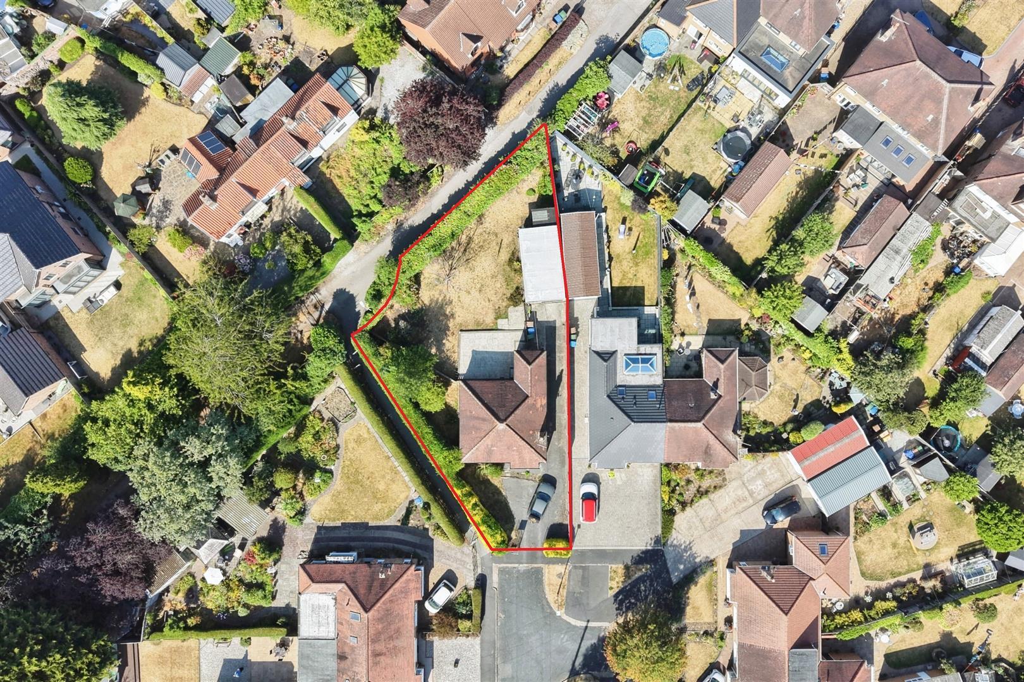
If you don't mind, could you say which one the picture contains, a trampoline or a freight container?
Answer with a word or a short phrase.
trampoline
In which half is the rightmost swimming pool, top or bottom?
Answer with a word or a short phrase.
top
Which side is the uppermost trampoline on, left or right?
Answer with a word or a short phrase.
right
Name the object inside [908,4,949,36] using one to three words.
car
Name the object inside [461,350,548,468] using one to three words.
house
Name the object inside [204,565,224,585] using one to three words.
umbrella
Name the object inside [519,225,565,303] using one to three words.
building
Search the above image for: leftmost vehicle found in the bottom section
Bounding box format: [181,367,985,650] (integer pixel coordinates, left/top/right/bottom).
[425,580,455,613]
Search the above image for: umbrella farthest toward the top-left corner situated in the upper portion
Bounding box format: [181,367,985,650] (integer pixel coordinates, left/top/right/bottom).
[116,193,141,218]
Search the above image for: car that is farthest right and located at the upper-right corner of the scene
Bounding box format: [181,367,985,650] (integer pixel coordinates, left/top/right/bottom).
[1000,72,1024,110]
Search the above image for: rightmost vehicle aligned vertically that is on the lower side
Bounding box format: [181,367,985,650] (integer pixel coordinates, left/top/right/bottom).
[580,484,600,524]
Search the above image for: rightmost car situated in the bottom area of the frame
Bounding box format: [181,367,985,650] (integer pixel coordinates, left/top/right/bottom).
[764,497,805,527]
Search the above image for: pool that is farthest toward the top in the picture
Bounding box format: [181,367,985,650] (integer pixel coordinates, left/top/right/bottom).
[639,24,672,59]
